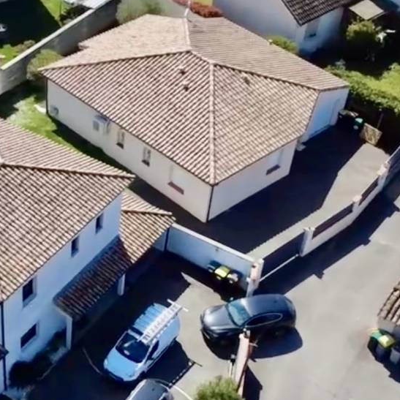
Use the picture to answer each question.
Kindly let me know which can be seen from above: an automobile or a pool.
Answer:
automobile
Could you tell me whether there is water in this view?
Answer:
No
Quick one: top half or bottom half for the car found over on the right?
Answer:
bottom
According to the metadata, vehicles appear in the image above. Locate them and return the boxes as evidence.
[106,307,178,393]
[198,297,296,346]
[127,379,175,400]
